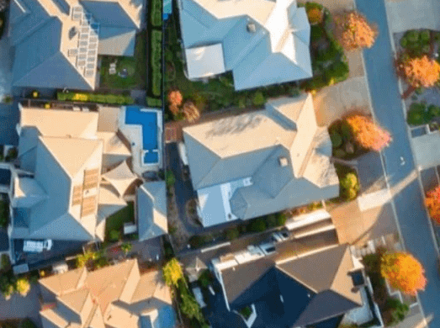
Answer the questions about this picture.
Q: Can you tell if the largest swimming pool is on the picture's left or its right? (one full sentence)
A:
The largest swimming pool is on the left side of the image.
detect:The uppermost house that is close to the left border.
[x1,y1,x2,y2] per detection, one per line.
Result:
[7,0,147,88]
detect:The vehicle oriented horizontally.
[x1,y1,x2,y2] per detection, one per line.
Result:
[23,239,53,254]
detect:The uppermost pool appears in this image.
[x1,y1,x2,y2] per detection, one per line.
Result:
[122,103,162,151]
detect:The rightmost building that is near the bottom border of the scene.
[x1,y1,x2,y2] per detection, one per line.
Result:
[208,238,367,328]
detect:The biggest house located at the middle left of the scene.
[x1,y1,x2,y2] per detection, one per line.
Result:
[12,106,133,243]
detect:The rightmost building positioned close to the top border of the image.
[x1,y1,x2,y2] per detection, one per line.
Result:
[176,0,313,91]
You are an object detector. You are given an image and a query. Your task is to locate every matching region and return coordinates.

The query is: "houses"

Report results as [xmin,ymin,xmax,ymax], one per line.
[208,238,367,328]
[12,106,133,243]
[181,91,342,227]
[7,0,147,88]
[176,0,313,91]
[33,256,173,328]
